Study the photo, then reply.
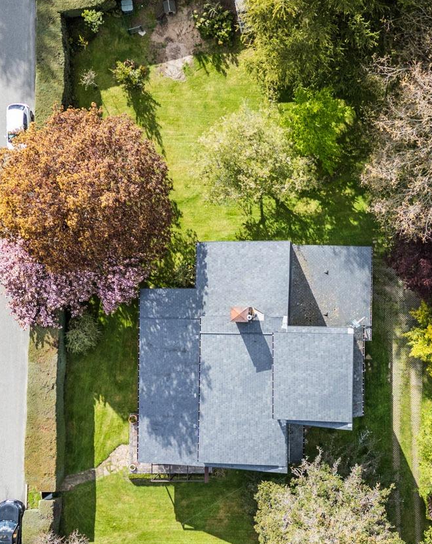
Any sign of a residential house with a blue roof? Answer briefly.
No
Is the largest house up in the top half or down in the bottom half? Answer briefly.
bottom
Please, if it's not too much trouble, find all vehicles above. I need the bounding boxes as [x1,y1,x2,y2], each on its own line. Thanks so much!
[3,98,35,151]
[0,498,27,544]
